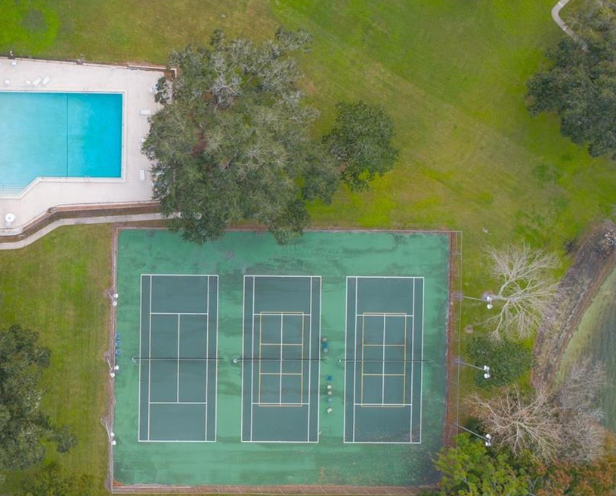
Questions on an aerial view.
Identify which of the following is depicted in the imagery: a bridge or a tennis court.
tennis court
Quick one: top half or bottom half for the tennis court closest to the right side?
bottom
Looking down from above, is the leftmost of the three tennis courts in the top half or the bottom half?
bottom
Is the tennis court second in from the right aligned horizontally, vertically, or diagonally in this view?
vertically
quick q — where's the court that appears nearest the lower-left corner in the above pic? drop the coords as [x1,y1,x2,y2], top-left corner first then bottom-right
[138,275,219,443]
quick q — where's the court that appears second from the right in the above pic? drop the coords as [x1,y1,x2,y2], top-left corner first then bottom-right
[242,275,322,443]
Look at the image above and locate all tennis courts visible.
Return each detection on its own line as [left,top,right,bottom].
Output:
[138,275,219,443]
[343,276,425,444]
[242,275,322,443]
